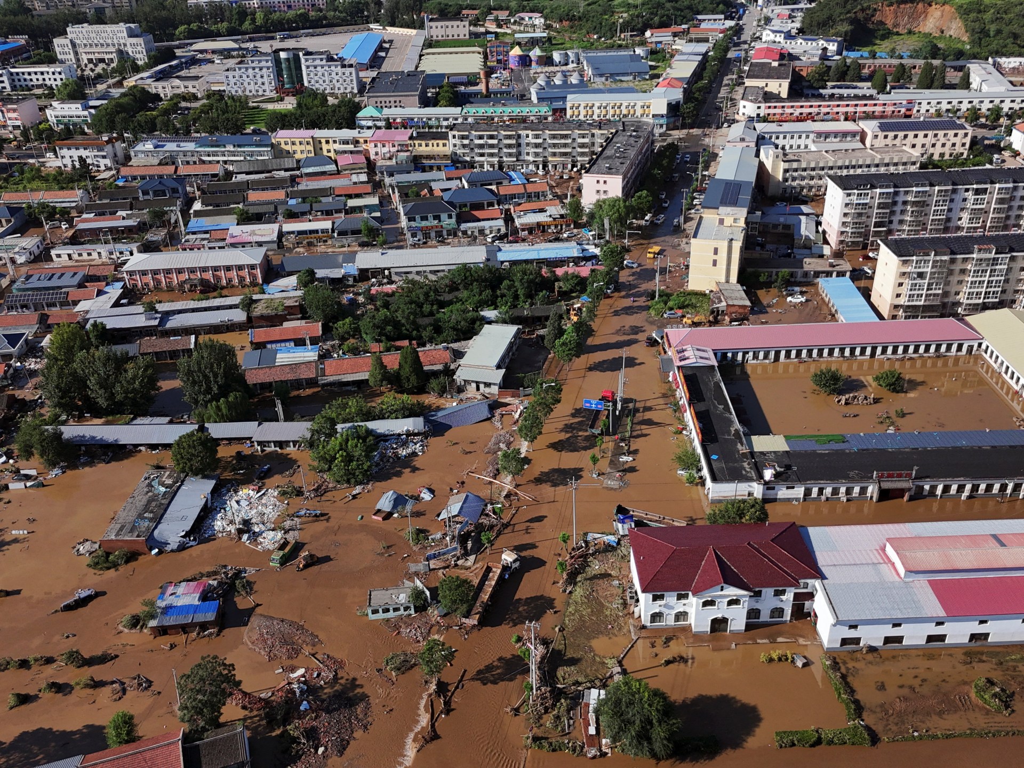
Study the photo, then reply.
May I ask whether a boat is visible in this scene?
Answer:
No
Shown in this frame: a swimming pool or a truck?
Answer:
truck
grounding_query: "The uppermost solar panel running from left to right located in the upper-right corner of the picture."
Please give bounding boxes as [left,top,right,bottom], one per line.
[877,118,965,131]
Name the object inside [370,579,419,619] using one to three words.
shed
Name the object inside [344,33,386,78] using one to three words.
building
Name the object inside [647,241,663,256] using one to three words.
vehicle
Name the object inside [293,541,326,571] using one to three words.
work vehicle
